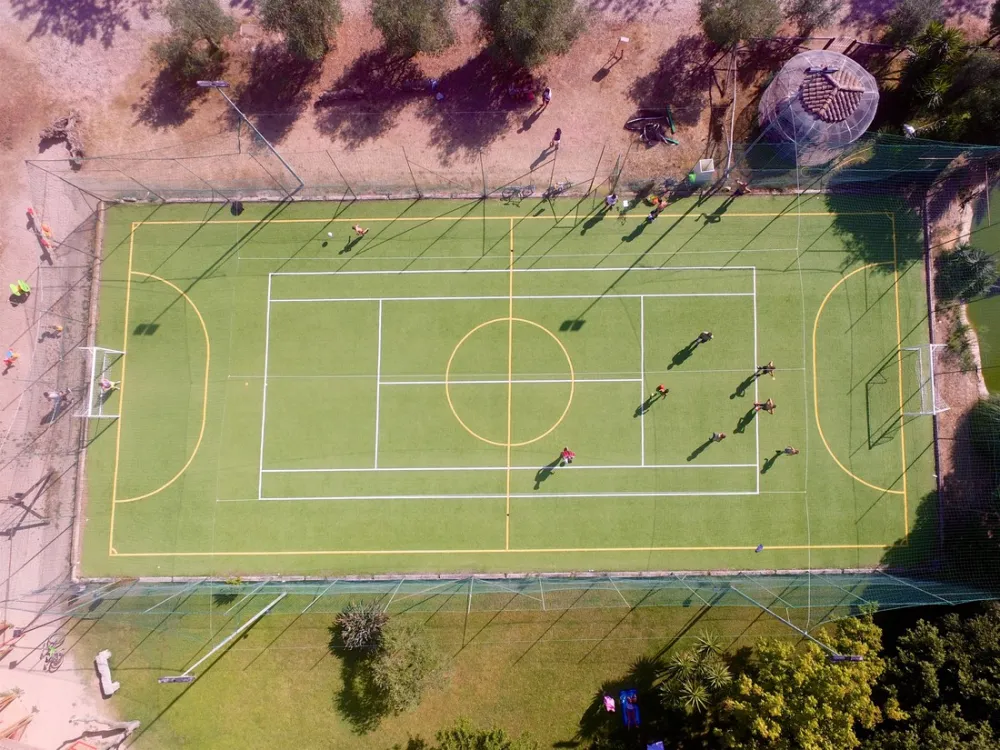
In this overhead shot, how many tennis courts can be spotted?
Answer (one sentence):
The picture shows 1 tennis court.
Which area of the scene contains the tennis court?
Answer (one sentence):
The tennis court sits in the center section of the image.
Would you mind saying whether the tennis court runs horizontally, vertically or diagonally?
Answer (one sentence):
I'd say the tennis court is aligned horizontally in the picture.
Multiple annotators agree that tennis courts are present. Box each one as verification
[259,267,760,499]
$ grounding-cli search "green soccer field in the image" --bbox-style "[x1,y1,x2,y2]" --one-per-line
[80,194,939,577]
